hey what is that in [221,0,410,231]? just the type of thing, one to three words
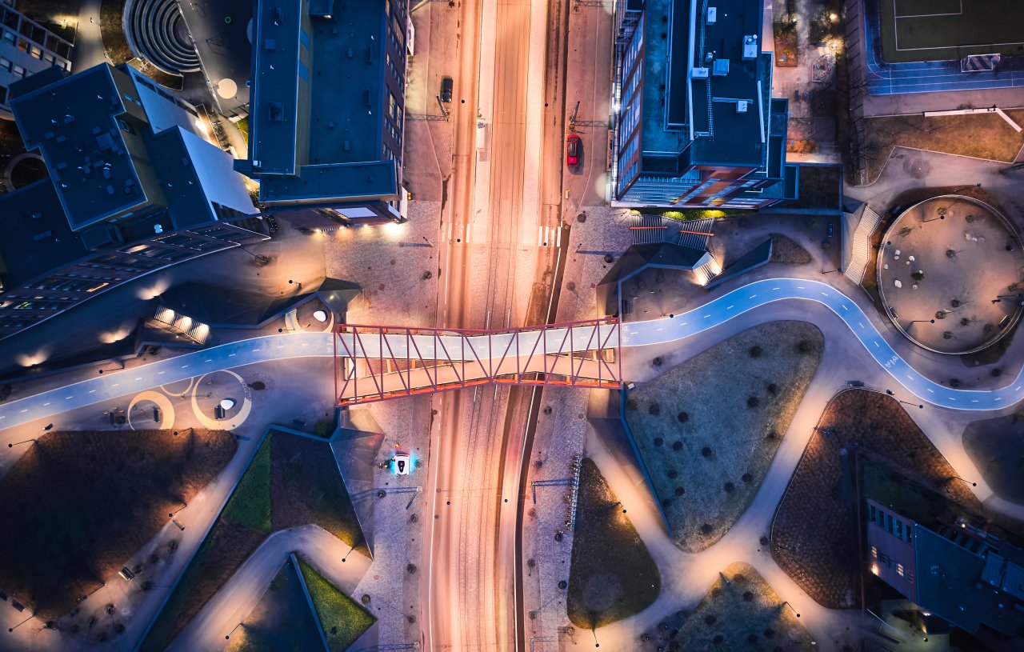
building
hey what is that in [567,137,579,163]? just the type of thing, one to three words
vehicle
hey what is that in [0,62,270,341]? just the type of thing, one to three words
building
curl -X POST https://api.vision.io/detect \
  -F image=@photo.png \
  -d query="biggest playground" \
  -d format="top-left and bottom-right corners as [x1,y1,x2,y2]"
[884,200,1021,349]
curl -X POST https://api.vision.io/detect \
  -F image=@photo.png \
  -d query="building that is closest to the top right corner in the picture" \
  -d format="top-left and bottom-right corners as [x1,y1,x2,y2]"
[601,0,798,210]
